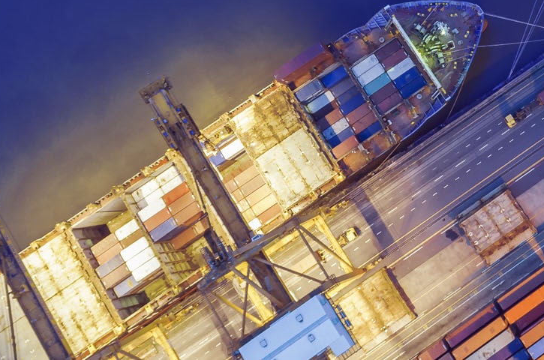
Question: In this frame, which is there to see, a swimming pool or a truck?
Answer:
truck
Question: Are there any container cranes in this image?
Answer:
Yes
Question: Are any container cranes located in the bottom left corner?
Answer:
Yes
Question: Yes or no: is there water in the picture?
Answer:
Yes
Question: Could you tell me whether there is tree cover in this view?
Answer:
No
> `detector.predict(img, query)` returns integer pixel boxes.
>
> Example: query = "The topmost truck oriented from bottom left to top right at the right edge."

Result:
[502,97,543,130]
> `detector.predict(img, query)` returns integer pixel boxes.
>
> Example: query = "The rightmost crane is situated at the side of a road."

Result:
[135,73,404,360]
